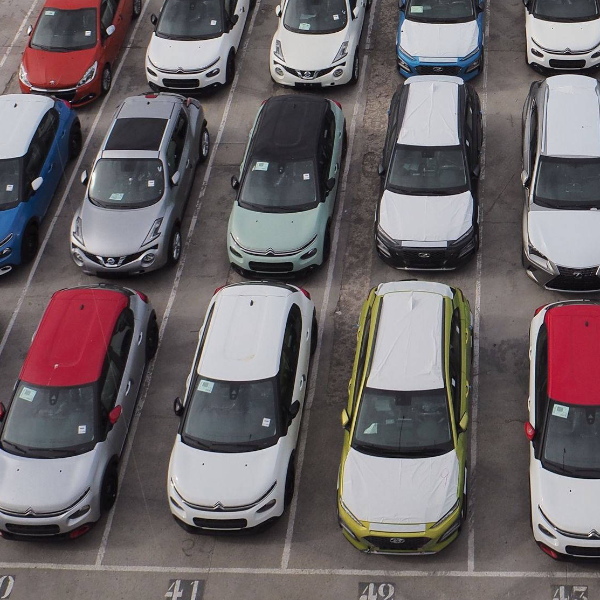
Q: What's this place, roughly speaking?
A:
parking lot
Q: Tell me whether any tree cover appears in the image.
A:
No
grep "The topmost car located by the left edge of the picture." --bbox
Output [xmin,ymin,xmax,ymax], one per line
[21,0,143,103]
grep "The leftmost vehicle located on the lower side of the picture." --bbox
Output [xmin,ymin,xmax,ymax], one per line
[0,279,159,538]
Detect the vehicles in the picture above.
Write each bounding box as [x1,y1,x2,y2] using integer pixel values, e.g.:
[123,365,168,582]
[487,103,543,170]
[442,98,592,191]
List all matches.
[397,0,485,84]
[0,279,159,538]
[522,0,600,74]
[21,0,143,103]
[73,99,211,280]
[146,0,256,92]
[336,281,473,559]
[228,92,347,277]
[169,275,318,533]
[524,295,600,561]
[374,76,482,273]
[273,0,370,92]
[0,91,86,274]
[520,79,600,293]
